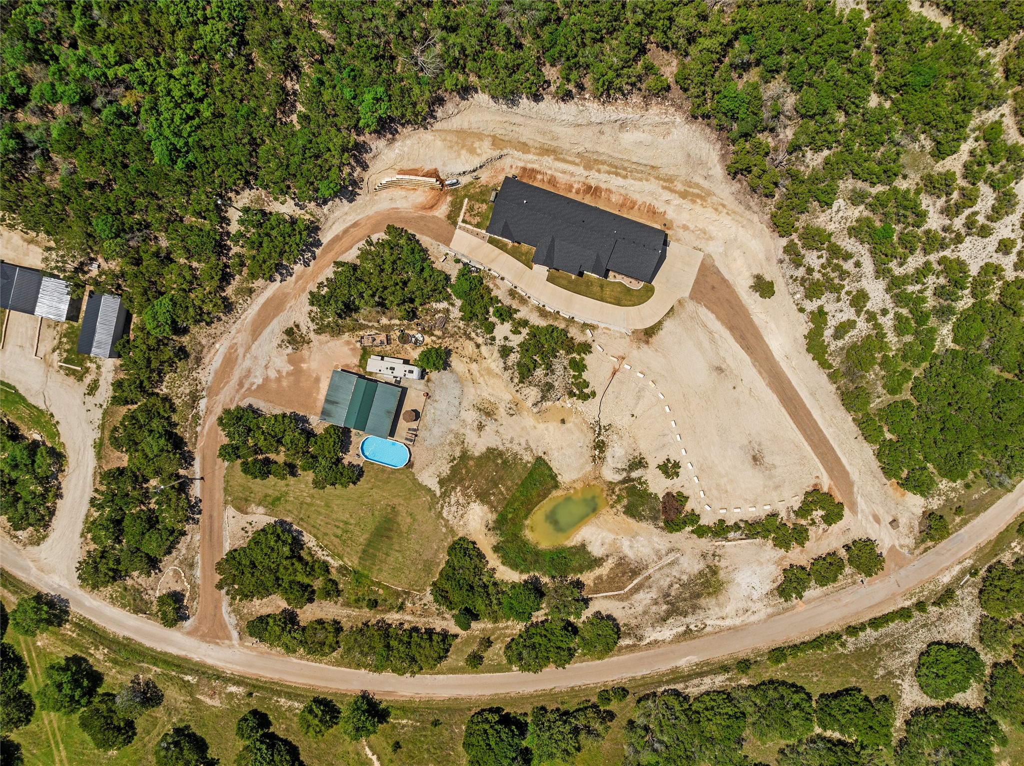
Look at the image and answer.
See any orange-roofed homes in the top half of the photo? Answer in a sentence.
No, looking in the top half of the photo, there is no orange-roofed home.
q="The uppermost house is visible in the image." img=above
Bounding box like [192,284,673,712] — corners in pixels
[486,175,665,282]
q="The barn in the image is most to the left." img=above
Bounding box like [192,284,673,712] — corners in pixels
[0,263,81,322]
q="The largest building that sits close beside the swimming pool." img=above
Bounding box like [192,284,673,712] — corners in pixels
[320,370,402,440]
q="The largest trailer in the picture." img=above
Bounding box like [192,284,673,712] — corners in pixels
[366,356,428,382]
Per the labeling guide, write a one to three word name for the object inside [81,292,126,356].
shed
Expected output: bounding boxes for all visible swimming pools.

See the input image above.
[360,436,410,468]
